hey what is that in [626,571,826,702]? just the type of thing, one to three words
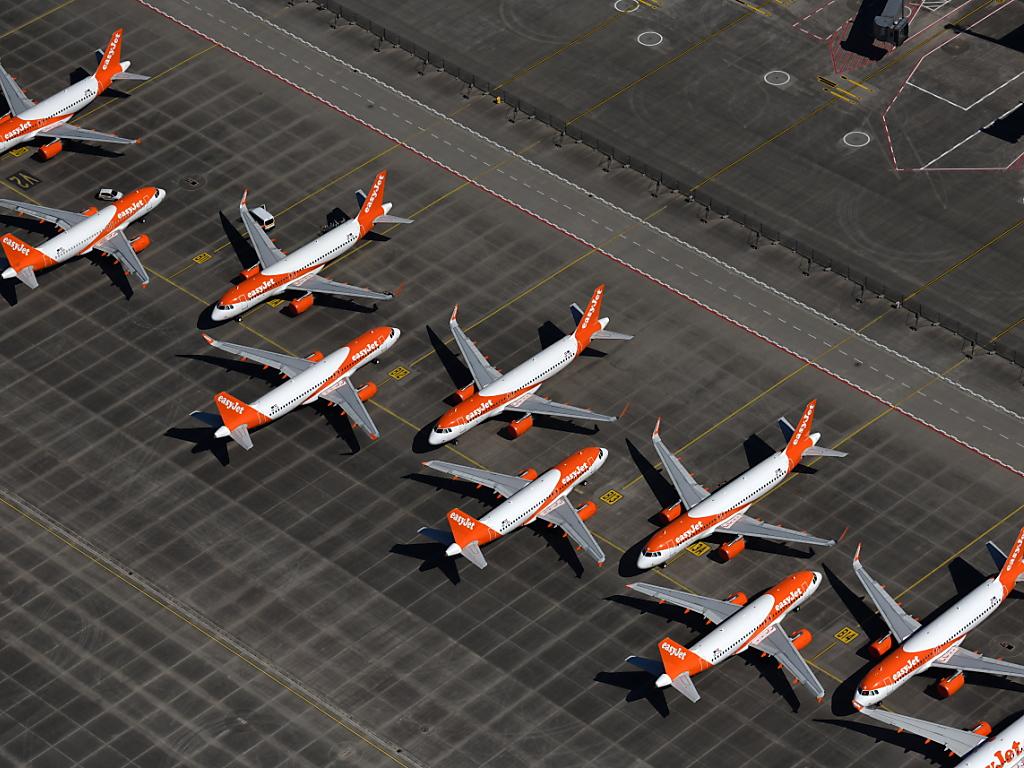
airplane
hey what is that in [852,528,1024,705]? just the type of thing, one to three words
airplane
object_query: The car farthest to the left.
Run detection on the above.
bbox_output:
[98,188,122,201]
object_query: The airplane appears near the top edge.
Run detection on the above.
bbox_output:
[0,30,152,162]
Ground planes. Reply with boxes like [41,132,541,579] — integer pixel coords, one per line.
[427,284,636,445]
[0,30,152,162]
[191,326,401,449]
[852,528,1024,705]
[0,187,168,288]
[417,447,609,569]
[636,399,848,569]
[859,705,1024,768]
[626,571,826,702]
[210,169,415,320]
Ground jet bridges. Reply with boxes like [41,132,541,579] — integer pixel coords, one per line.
[873,0,911,47]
